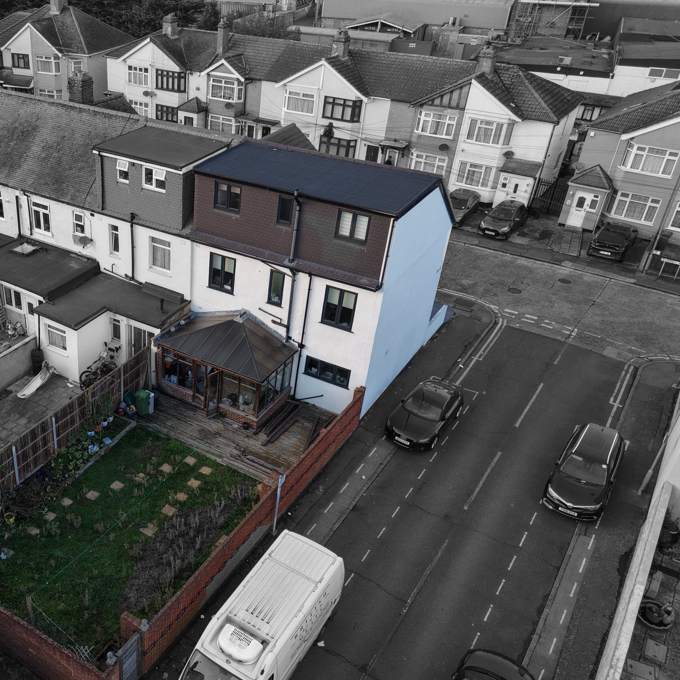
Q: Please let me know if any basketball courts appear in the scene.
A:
No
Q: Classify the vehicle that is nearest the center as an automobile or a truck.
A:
automobile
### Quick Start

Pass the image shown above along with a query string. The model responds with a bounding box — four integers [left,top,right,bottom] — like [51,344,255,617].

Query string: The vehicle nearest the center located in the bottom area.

[382,375,467,455]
